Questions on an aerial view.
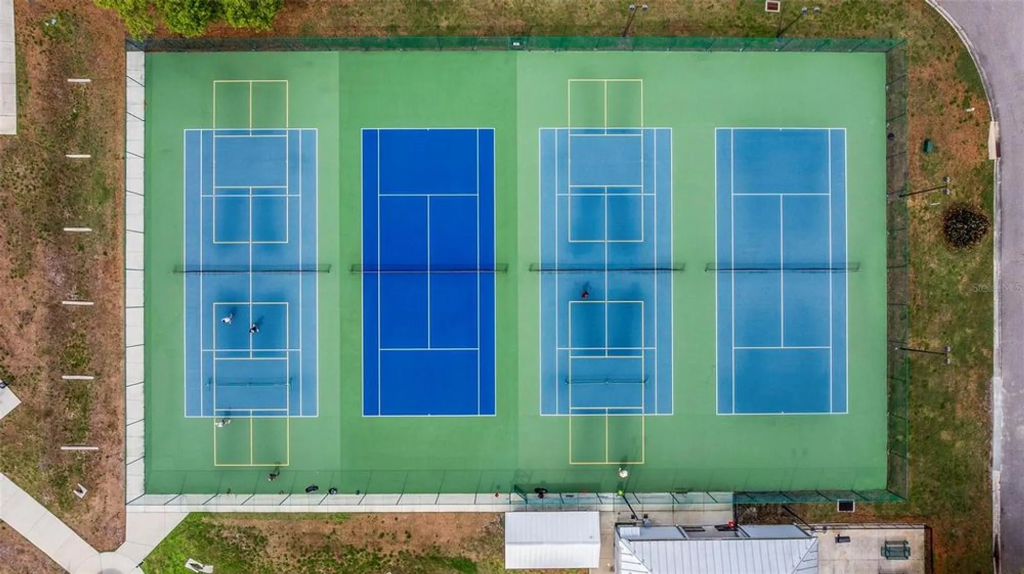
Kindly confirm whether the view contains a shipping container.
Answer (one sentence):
No, no shipping container can be seen from above.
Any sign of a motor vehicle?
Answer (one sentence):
No, I find no motor vehicle anywhere in the image.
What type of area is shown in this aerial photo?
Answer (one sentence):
It's a sports ground.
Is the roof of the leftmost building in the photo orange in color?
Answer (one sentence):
No, the roof of the leftmost building is actually white.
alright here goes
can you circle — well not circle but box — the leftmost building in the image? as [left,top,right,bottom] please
[505,506,600,569]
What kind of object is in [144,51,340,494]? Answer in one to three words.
tennis court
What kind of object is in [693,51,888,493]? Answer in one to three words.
tennis court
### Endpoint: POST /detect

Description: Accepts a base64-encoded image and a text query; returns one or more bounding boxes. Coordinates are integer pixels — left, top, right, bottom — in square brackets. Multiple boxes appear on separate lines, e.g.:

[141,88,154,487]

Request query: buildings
[615,523,818,574]
[505,506,600,569]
